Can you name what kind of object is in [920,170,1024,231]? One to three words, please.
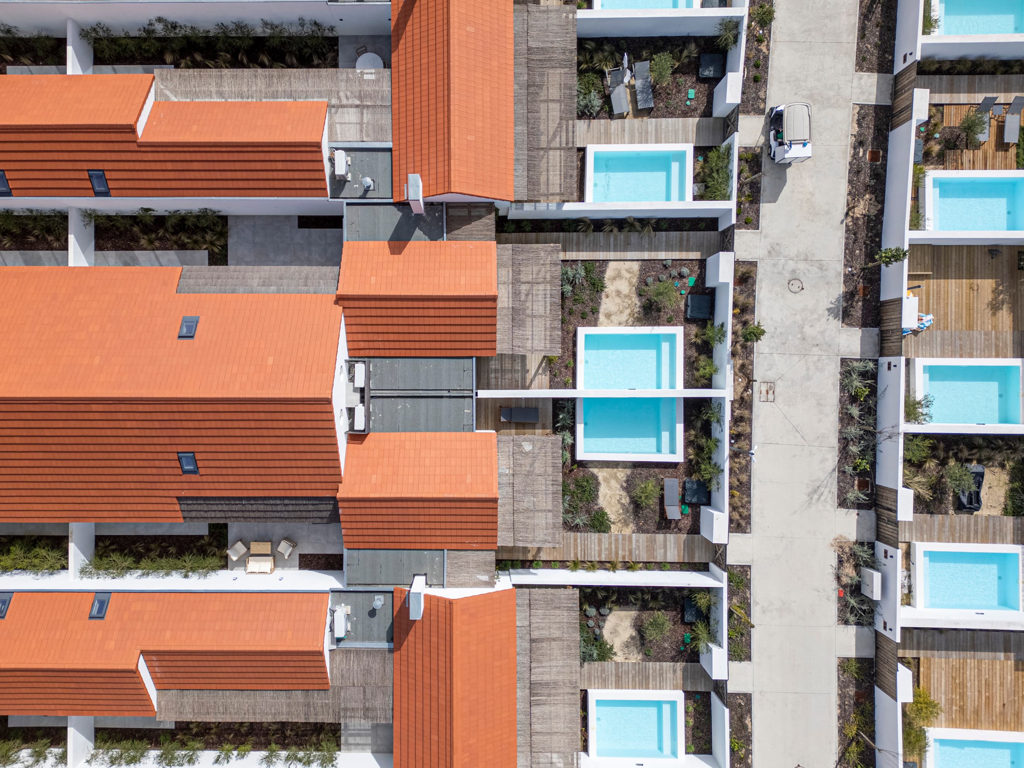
swimming pool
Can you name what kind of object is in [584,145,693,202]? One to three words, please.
swimming pool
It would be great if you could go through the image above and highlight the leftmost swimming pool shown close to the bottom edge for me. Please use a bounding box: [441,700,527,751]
[587,687,684,759]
